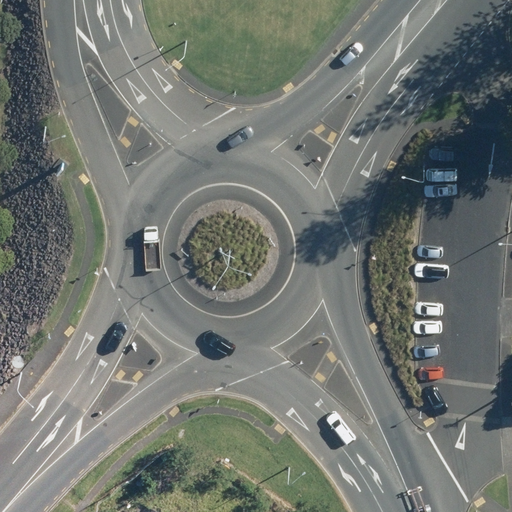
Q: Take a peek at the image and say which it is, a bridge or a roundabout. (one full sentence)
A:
The image shows a roundabout.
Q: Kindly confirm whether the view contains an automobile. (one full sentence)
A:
Yes, the image includes an automobile.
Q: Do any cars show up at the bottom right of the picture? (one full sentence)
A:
Yes, a car appears at the bottom right of the picture.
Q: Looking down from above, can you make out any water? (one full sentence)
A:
No, the scene doesn't show any water.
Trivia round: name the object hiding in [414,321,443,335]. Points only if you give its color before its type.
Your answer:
white car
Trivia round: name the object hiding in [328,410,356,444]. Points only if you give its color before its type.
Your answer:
white van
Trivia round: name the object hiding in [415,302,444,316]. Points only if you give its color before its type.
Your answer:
white car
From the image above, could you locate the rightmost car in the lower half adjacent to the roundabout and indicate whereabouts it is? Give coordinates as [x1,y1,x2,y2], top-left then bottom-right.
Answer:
[204,331,237,356]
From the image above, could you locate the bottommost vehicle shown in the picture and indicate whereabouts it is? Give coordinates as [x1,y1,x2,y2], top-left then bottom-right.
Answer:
[408,486,434,512]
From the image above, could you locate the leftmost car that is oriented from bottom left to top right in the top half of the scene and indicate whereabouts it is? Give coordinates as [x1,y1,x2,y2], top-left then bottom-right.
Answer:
[222,127,256,152]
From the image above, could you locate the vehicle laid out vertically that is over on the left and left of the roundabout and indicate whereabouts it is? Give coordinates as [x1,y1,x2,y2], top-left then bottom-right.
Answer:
[142,226,160,272]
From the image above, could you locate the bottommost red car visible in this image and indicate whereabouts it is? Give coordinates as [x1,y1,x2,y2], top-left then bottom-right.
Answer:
[418,367,446,382]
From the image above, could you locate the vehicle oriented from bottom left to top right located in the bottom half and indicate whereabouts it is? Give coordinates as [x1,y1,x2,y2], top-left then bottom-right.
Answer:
[102,322,130,356]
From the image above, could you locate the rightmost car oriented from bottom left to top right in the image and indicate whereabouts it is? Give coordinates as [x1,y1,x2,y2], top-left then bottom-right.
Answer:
[338,40,364,68]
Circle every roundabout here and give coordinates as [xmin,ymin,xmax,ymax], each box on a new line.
[161,182,298,319]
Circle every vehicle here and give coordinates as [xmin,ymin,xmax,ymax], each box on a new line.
[424,386,448,415]
[417,246,444,259]
[428,148,455,162]
[414,264,450,278]
[142,226,160,272]
[338,40,364,68]
[222,127,256,152]
[425,183,458,198]
[418,367,446,382]
[102,322,130,356]
[408,486,434,512]
[204,331,237,356]
[415,302,444,316]
[328,410,356,444]
[414,321,443,335]
[414,345,440,360]
[426,168,458,182]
